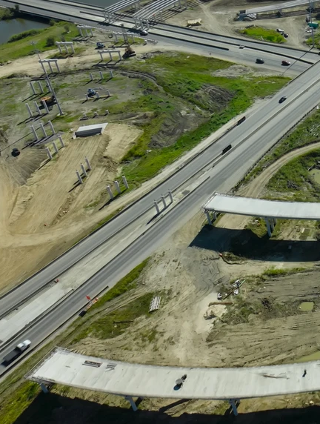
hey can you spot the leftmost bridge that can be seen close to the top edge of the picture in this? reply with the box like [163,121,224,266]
[28,0,88,26]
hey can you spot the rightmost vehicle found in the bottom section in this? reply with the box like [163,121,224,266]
[7,335,32,354]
